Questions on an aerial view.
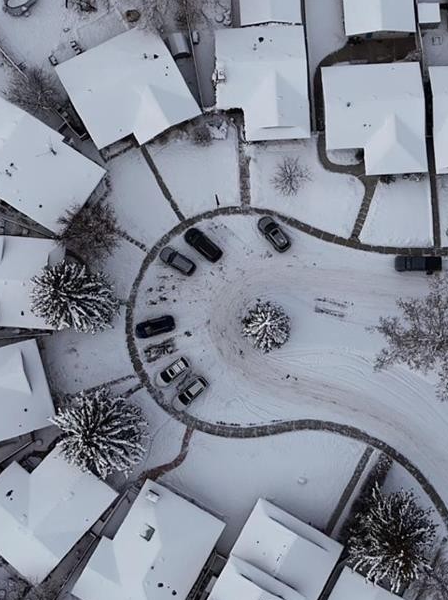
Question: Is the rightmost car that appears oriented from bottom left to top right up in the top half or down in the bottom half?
bottom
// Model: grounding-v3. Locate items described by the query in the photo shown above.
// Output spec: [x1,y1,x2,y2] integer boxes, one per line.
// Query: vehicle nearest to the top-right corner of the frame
[395,254,444,273]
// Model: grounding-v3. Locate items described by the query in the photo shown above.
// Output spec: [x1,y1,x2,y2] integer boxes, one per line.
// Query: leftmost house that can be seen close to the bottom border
[0,445,119,586]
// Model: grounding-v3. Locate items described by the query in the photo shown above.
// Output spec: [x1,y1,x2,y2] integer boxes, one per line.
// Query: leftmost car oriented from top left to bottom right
[159,246,195,277]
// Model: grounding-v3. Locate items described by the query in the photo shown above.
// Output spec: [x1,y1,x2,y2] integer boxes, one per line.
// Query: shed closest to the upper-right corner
[418,2,441,27]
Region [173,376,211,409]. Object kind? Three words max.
car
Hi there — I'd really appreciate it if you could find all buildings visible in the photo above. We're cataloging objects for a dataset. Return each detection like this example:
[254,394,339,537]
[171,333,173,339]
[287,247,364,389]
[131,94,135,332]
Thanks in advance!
[428,66,448,174]
[56,28,203,150]
[71,479,226,600]
[0,339,55,440]
[327,562,409,600]
[0,445,119,586]
[209,496,344,600]
[0,236,66,329]
[213,26,310,141]
[0,98,107,234]
[241,0,302,26]
[344,0,416,36]
[321,62,428,175]
[418,2,441,27]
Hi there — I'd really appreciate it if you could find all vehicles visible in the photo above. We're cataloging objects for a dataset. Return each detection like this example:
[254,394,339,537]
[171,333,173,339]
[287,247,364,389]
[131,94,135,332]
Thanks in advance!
[395,254,444,273]
[154,358,190,388]
[184,228,222,264]
[159,246,195,277]
[258,215,291,253]
[173,376,211,409]
[134,315,176,340]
